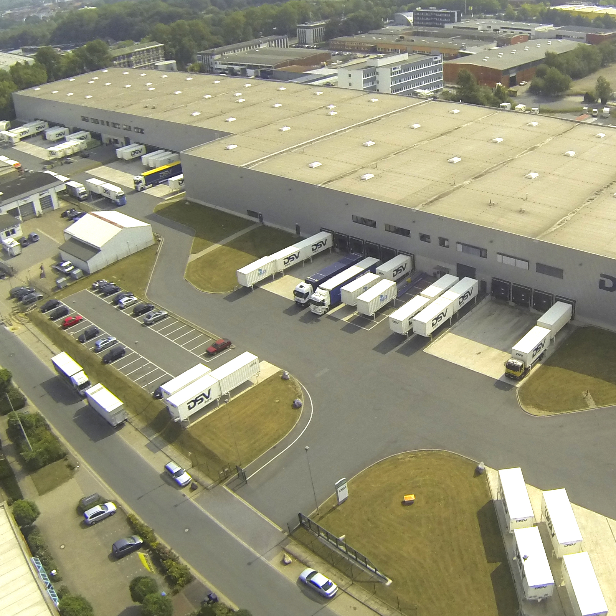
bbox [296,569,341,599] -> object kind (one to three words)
car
